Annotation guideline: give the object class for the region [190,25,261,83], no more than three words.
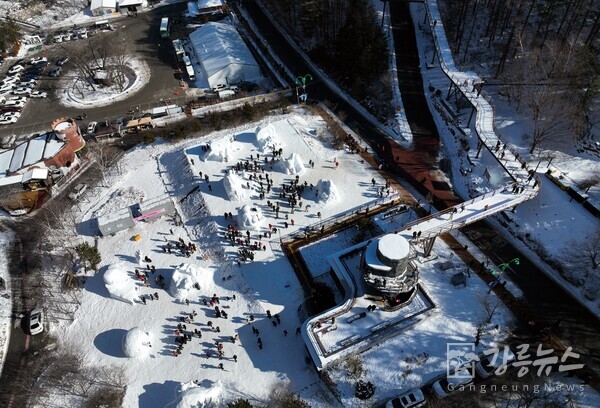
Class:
tent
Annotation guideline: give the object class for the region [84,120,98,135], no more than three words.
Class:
car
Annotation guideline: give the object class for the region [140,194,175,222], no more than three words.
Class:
building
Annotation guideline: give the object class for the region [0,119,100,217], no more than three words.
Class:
building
